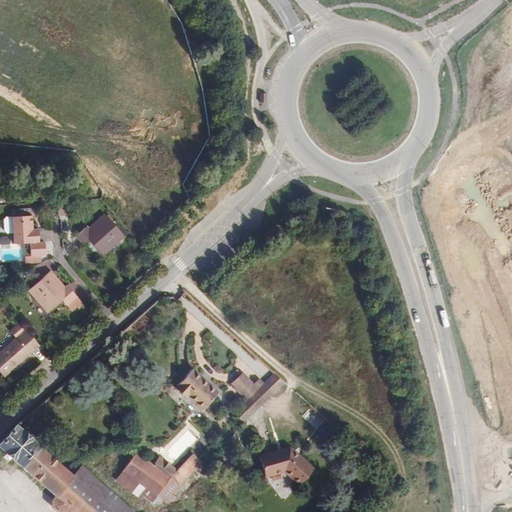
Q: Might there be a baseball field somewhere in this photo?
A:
No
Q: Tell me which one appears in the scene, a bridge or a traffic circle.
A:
traffic circle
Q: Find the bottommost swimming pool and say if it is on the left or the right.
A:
left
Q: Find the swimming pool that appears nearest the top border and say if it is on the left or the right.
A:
left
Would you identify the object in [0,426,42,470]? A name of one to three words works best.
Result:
house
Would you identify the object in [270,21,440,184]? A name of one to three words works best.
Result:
roundabout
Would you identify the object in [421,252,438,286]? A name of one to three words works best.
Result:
vehicle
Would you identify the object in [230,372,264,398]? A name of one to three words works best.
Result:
barn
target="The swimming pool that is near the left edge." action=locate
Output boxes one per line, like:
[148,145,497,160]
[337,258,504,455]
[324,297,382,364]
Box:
[0,244,24,264]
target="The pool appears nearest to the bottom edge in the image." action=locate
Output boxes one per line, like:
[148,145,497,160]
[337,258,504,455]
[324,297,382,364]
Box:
[154,424,200,464]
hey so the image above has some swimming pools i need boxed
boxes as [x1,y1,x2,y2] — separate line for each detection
[154,424,200,464]
[0,244,24,264]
